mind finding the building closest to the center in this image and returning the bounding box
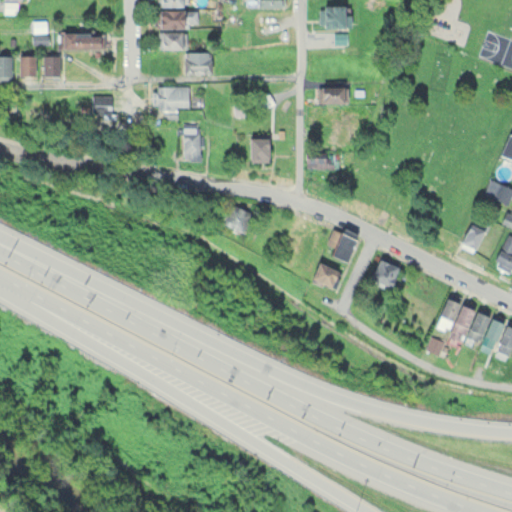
[224,210,252,236]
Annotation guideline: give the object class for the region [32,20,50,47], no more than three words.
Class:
building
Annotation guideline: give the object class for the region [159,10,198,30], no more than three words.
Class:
house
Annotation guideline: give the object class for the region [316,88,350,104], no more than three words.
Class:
house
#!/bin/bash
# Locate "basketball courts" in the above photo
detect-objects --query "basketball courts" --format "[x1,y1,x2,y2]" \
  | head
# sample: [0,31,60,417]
[477,30,512,72]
